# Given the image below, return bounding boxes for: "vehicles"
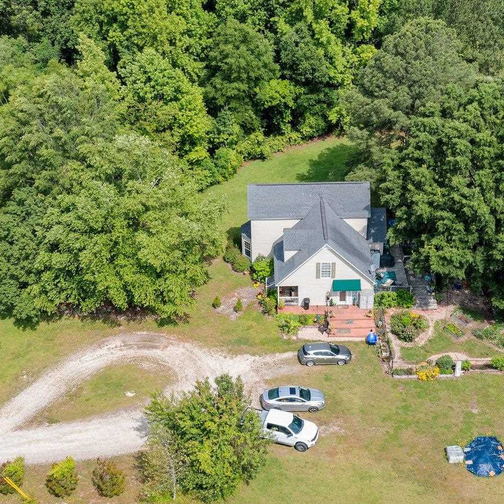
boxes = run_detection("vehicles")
[263,408,322,451]
[262,382,325,411]
[298,339,353,366]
